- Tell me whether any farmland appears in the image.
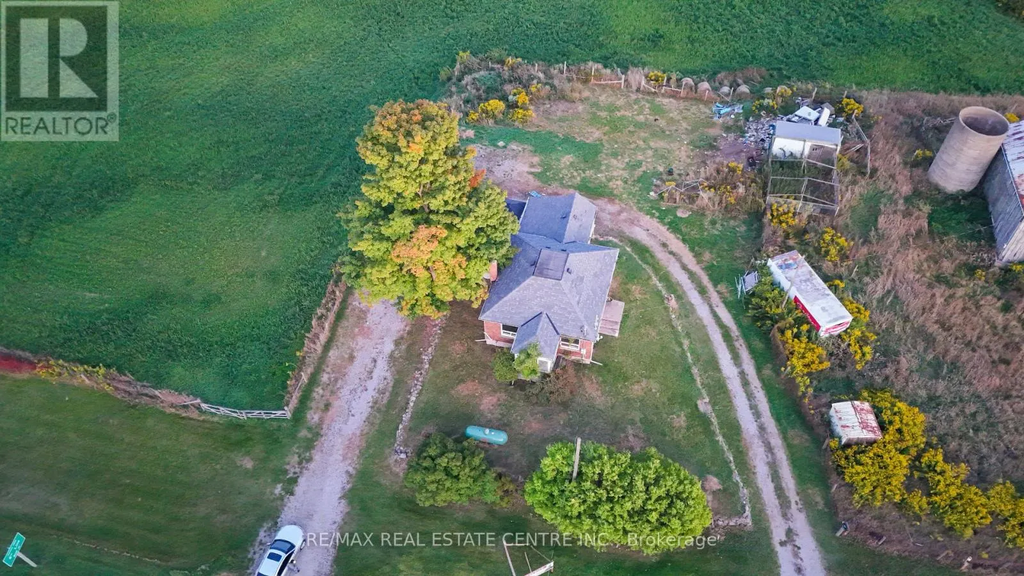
Yes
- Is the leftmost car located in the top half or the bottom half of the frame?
bottom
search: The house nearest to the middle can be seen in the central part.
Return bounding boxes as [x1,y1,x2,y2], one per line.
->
[475,192,624,380]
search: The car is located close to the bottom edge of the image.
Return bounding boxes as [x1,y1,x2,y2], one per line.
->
[251,526,303,576]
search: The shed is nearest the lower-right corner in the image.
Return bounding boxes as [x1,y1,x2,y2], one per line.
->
[823,401,881,453]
